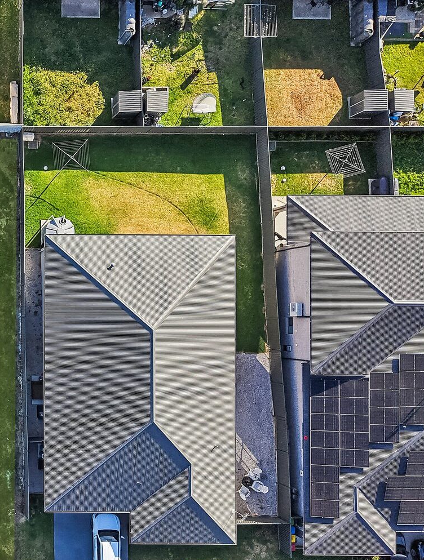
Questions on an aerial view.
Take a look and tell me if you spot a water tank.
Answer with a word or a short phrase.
Yes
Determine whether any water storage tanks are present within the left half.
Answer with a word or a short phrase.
Yes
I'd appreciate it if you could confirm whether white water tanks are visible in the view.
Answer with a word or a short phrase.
Yes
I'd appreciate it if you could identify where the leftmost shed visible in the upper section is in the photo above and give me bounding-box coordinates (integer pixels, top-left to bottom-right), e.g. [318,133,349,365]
[111,89,143,116]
